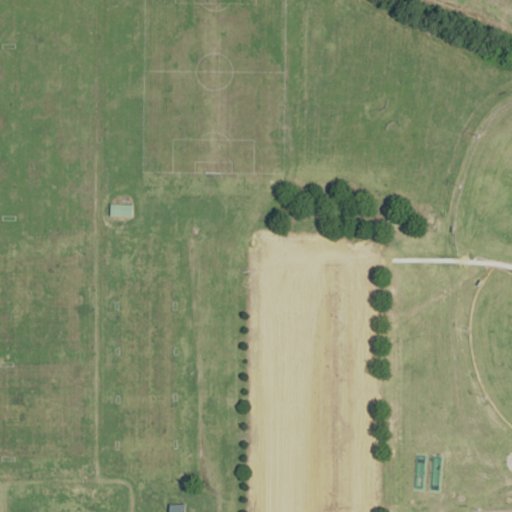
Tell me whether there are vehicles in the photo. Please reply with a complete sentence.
No, the frame has no vehicle in it.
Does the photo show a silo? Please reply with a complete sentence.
No, there appears to be no silo in this shot.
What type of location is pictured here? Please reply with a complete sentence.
The area seen from above is a sports ground.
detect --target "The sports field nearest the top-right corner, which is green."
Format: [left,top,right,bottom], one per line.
[456,104,512,254]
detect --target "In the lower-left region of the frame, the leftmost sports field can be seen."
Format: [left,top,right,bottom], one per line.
[0,362,86,460]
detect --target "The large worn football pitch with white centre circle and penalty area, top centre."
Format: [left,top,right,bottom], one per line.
[144,0,286,174]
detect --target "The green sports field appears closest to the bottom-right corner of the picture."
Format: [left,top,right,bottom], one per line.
[468,267,512,430]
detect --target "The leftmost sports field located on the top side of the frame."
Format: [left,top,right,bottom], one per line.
[0,44,92,220]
